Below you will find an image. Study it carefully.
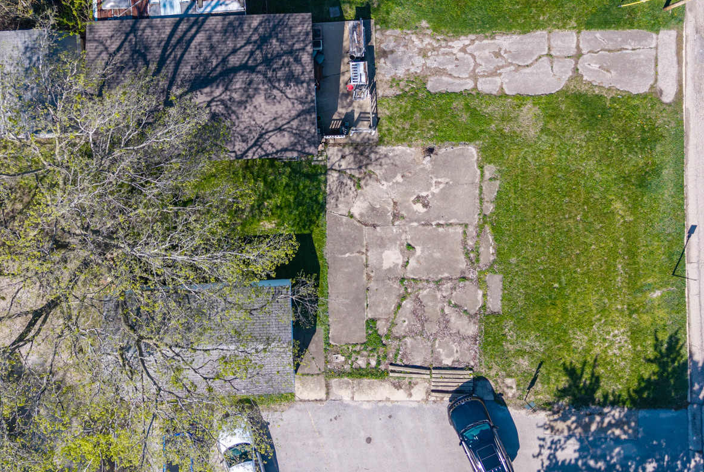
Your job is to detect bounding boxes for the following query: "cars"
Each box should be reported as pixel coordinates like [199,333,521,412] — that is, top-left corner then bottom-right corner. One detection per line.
[221,418,262,472]
[453,393,513,472]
